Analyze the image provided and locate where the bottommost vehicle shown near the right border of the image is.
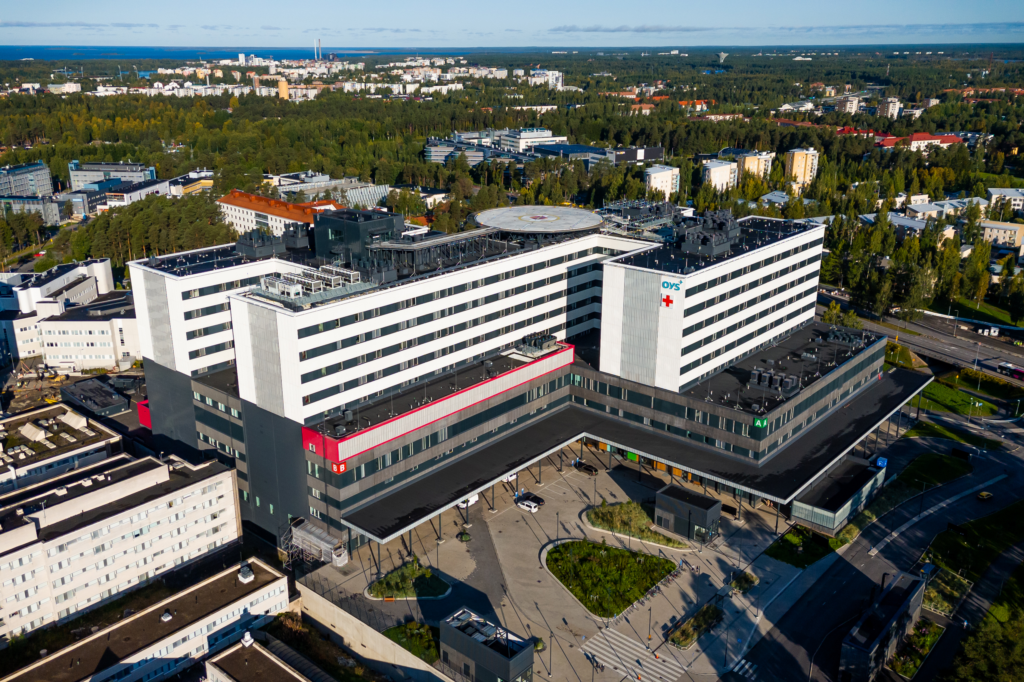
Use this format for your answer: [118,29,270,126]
[974,489,996,501]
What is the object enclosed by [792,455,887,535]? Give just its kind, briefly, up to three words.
building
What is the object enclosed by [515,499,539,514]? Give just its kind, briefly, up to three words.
car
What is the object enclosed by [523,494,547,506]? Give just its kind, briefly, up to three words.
vehicle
